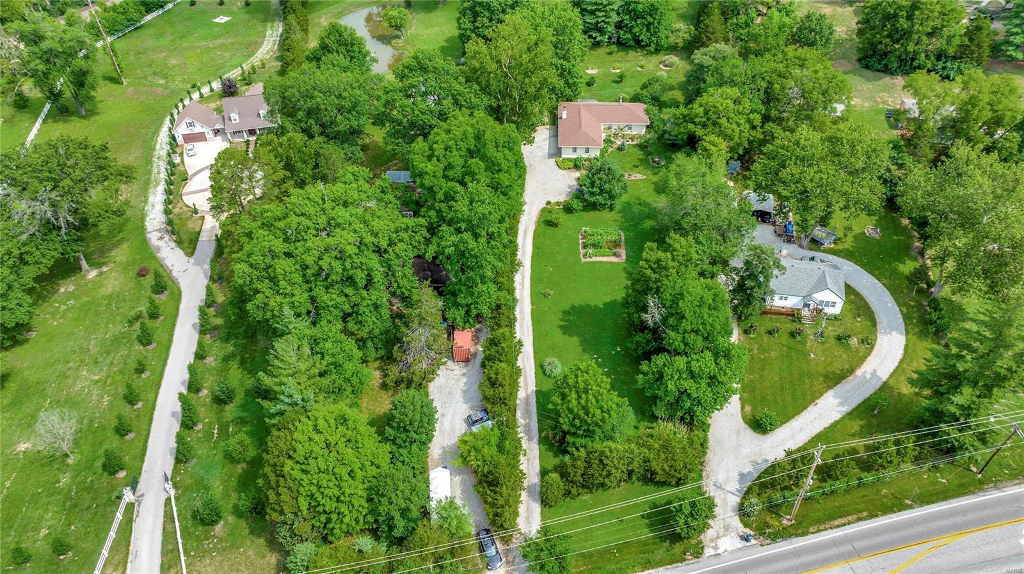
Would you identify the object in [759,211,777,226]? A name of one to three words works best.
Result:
car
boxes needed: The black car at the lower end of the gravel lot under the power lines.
[476,528,503,571]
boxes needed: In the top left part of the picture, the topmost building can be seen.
[173,73,280,144]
